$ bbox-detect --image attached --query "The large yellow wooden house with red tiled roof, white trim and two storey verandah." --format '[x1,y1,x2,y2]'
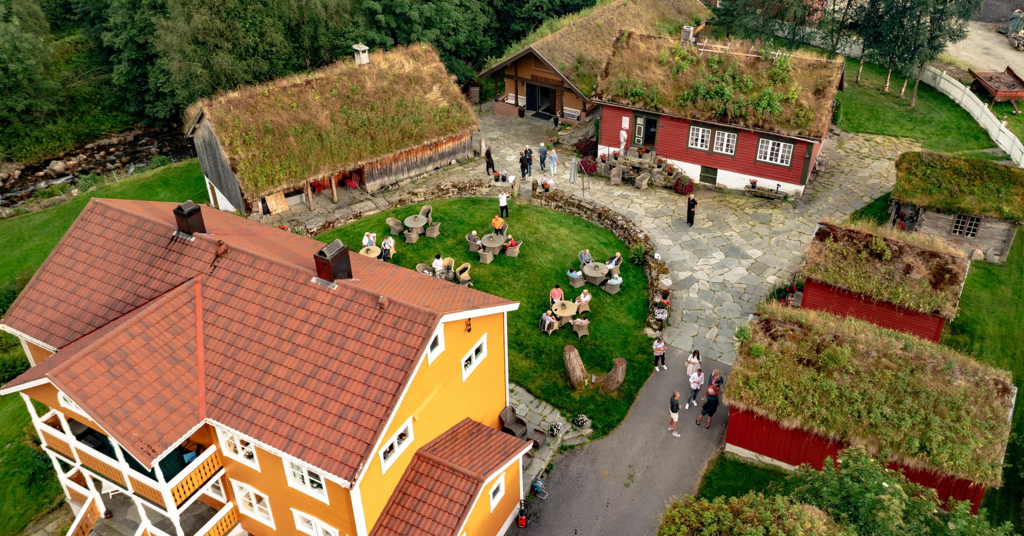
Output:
[0,196,533,536]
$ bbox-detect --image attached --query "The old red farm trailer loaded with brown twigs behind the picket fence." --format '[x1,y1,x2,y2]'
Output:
[969,64,1024,114]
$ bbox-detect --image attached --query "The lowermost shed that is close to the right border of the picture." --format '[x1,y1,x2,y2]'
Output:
[723,309,1021,516]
